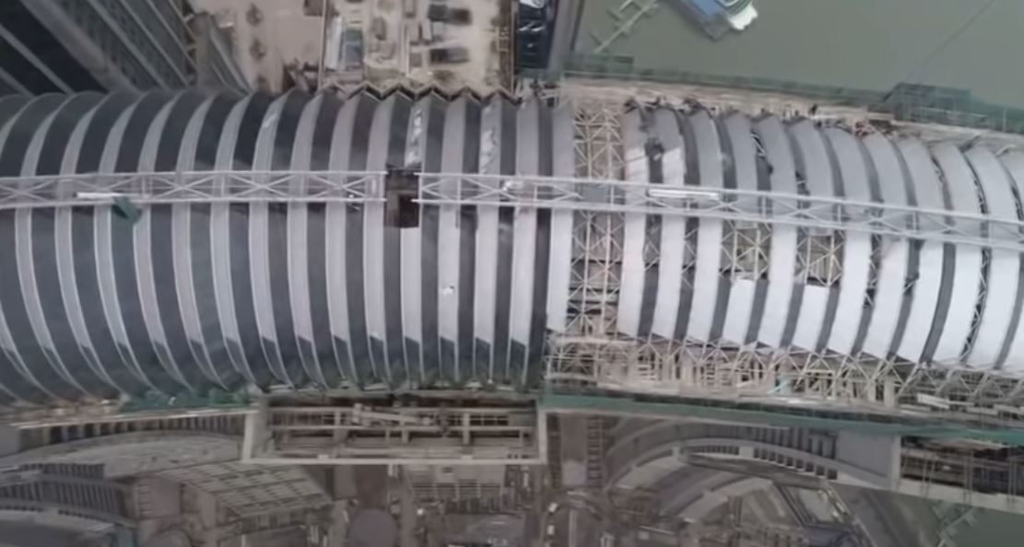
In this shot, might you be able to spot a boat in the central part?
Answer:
No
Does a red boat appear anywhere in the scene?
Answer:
No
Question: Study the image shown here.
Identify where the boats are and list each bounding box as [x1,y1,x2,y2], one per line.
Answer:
[707,0,751,30]
[661,0,729,43]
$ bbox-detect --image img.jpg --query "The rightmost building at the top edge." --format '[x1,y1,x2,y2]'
[517,0,553,80]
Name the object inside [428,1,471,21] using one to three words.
vehicle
